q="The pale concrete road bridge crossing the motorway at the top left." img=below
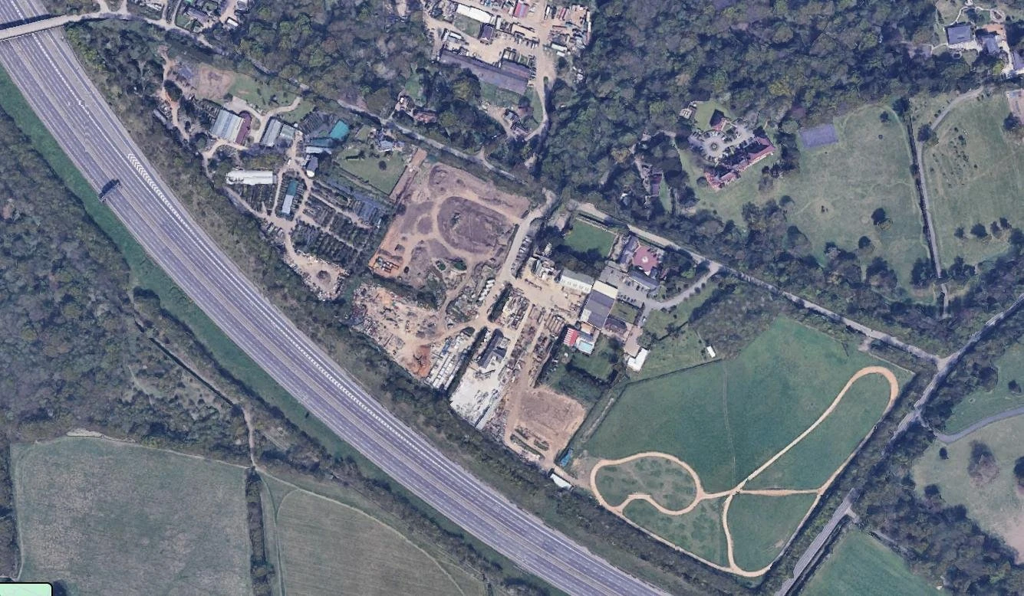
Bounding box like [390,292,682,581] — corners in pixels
[0,10,86,39]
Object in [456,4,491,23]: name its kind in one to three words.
shed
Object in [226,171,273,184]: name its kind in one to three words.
greenhouse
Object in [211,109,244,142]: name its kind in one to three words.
barn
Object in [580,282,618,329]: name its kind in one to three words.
building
